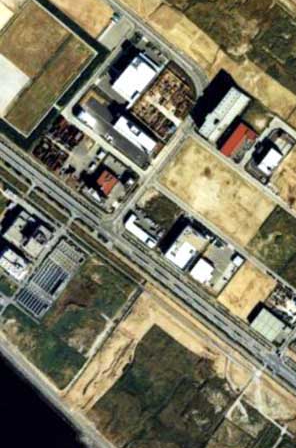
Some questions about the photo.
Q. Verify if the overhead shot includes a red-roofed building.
Yes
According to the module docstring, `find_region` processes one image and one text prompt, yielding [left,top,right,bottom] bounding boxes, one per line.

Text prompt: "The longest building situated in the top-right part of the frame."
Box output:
[199,86,249,142]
